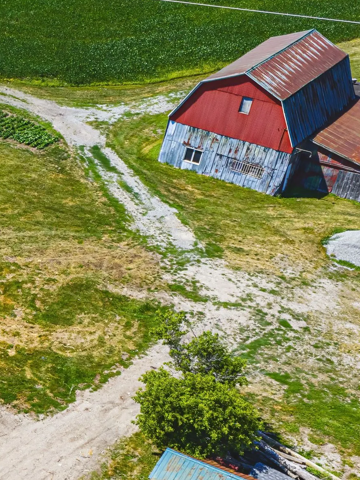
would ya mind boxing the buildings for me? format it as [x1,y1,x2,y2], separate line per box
[150,448,250,480]
[158,26,358,198]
